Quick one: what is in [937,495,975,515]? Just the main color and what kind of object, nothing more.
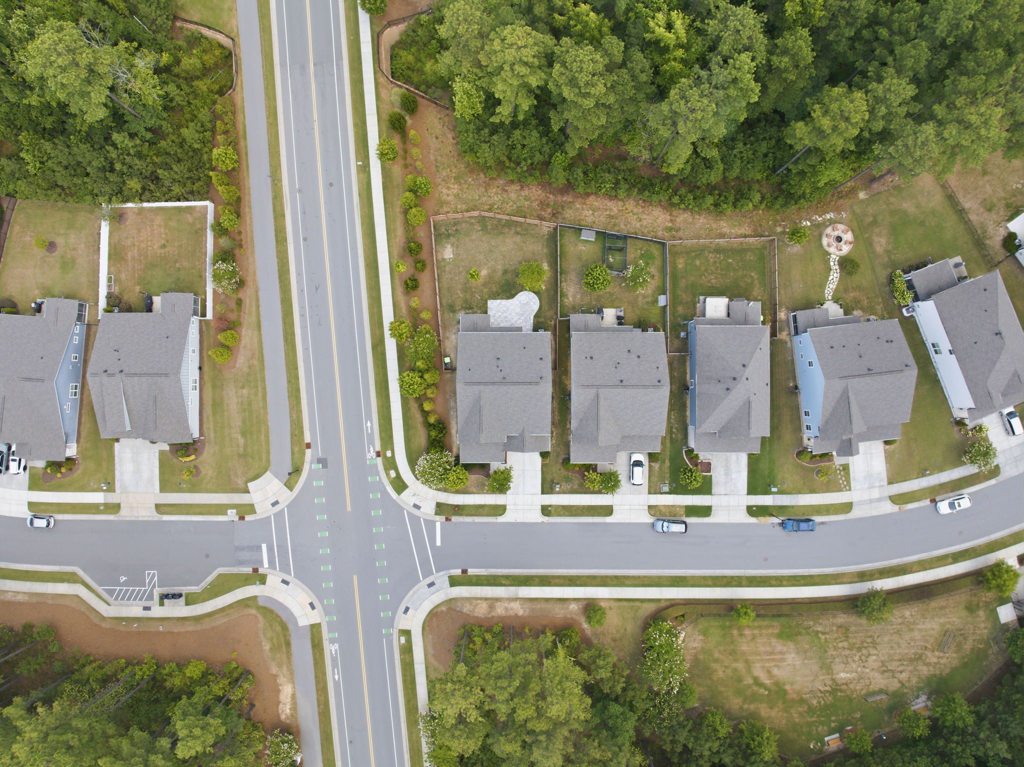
white car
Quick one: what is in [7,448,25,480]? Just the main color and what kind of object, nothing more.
white car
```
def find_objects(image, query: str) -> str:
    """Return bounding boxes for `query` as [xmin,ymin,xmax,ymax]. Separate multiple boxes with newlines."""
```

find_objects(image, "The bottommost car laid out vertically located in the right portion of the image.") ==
[630,453,646,486]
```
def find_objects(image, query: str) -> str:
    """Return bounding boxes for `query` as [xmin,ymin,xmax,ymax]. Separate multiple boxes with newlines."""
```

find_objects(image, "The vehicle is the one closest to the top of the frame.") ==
[1001,406,1024,440]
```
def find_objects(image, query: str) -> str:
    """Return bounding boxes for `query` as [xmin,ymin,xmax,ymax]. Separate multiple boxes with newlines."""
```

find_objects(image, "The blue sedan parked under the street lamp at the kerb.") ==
[783,519,817,535]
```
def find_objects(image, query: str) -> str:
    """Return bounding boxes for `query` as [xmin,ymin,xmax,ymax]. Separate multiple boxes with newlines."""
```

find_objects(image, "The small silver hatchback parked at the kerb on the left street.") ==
[24,515,53,531]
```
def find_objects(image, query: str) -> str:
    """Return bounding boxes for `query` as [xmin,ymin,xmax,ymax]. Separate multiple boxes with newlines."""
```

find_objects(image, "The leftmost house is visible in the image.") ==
[0,298,87,460]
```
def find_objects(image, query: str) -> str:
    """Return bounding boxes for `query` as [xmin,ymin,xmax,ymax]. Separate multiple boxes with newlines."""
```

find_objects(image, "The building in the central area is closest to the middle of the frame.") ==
[457,313,553,463]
